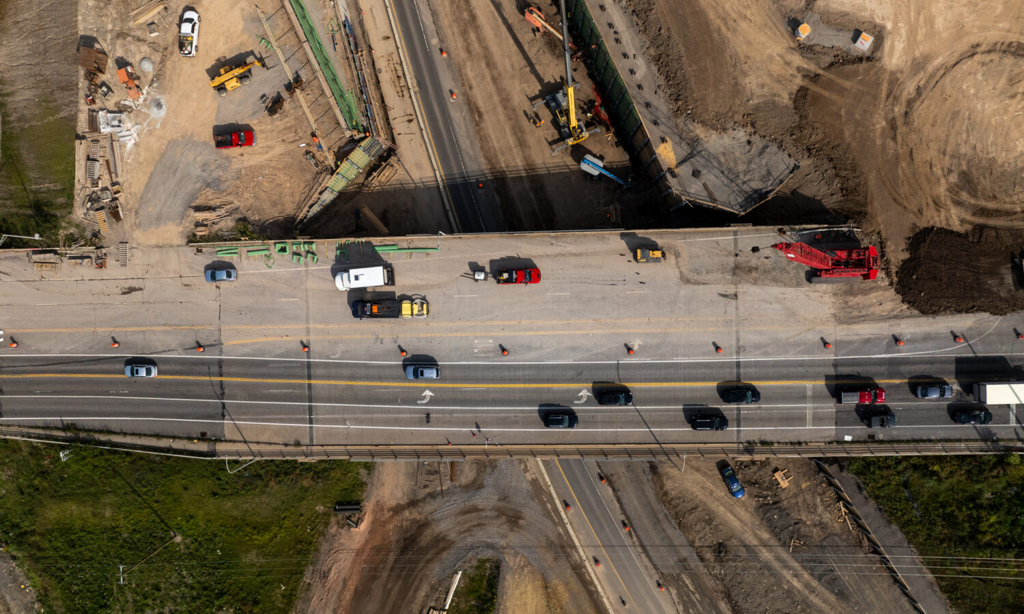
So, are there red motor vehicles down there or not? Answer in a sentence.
Yes, the frame does contain a red motor vehicle.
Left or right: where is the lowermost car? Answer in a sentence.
The lowermost car sits on the right side.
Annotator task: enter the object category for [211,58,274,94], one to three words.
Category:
work vehicle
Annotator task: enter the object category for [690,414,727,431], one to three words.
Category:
car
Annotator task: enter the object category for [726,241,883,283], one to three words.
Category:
crane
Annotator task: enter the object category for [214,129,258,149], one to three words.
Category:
vehicle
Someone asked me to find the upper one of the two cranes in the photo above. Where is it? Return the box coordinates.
[529,0,603,155]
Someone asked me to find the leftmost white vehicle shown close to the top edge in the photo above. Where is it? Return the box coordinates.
[180,10,201,58]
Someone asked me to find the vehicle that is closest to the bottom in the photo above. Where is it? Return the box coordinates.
[720,464,742,498]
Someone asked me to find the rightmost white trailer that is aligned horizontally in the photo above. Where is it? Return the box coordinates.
[968,382,1024,403]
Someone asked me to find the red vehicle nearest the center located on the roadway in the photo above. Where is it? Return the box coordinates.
[497,268,542,286]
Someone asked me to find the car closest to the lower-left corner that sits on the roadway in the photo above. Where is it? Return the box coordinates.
[126,363,160,379]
